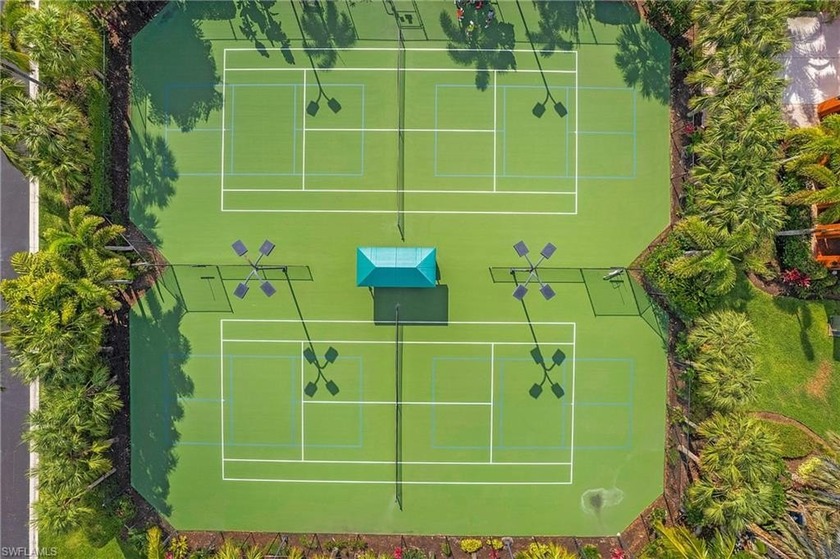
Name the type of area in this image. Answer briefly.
sports ground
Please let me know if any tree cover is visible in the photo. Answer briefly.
Yes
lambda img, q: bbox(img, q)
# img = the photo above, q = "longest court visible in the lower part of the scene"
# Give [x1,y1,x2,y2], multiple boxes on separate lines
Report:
[130,264,668,534]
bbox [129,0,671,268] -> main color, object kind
green tennis court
